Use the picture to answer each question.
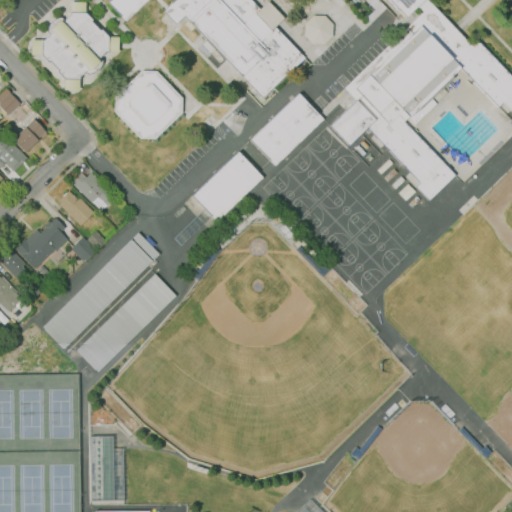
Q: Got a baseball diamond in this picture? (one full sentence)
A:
Yes, I can see a baseball diamond in this picture.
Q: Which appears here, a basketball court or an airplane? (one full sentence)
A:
There is a basketball court in the scene.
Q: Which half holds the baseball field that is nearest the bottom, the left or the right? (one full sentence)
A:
You can find the baseball field that is nearest the bottom on the right side of the picture.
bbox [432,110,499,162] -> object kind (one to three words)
swimming pool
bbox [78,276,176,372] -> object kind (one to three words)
shed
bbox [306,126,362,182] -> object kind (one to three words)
basketball court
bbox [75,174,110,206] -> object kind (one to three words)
house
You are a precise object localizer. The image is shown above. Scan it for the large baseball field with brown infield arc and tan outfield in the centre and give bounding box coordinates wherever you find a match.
[108,222,410,476]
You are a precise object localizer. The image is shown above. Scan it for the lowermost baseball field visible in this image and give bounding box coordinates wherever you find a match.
[326,402,512,512]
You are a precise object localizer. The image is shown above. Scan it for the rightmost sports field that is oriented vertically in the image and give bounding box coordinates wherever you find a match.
[383,168,512,448]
